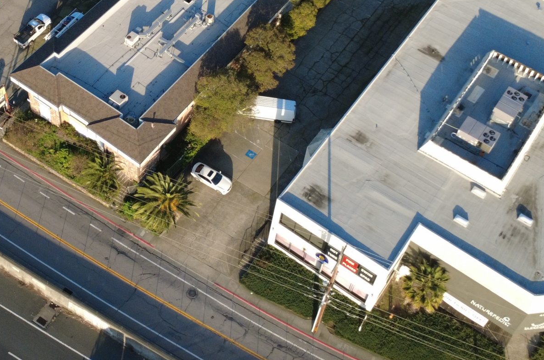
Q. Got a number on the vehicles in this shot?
four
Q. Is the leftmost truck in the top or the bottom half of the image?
top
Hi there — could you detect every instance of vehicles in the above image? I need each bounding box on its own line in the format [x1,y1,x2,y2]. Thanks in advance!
[16,14,48,49]
[254,94,300,124]
[191,162,232,196]
[45,7,84,40]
